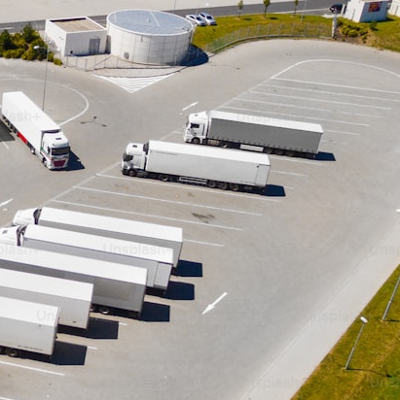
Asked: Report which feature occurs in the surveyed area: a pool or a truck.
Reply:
truck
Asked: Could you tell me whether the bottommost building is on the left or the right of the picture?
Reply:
left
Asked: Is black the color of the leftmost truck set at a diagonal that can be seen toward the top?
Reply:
No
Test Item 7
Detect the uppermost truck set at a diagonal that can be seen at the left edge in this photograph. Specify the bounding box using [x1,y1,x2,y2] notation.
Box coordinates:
[2,90,73,170]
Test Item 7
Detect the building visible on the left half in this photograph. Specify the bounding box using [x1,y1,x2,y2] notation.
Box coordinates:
[44,16,107,55]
